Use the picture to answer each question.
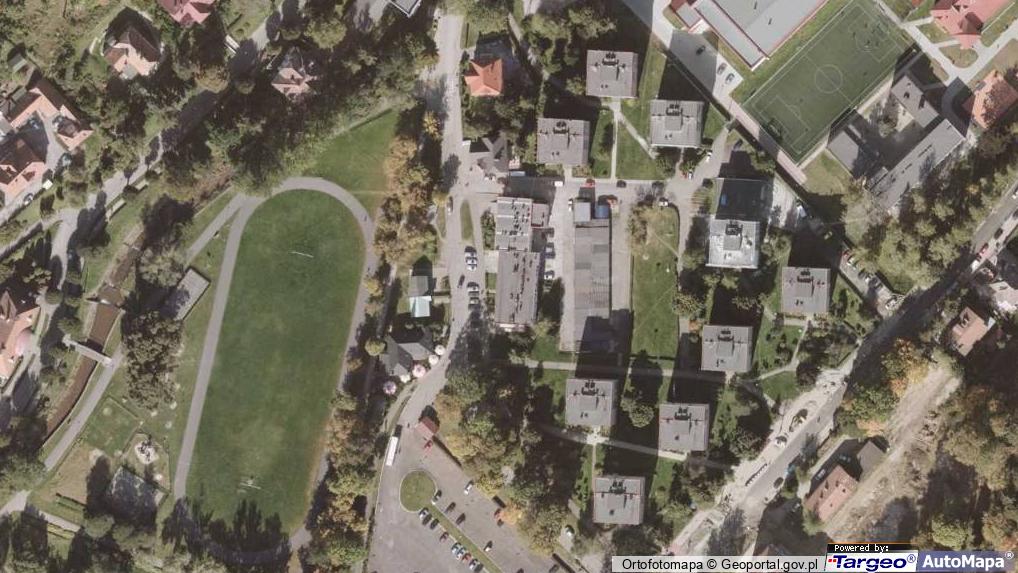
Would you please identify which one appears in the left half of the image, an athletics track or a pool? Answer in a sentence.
It is an athletics track that can be seen in the left half of the image.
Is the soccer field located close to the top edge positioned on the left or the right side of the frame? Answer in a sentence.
The soccer field located close to the top edge is on the right side of the image.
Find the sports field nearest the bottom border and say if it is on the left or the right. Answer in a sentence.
The sports field nearest the bottom border sits on the left side.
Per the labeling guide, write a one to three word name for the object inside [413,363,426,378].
umbrella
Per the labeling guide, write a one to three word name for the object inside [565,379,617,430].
building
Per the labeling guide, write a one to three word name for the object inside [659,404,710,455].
building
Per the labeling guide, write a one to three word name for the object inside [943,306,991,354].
house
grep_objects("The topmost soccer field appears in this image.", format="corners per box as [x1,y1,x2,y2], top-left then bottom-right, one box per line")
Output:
[742,0,908,164]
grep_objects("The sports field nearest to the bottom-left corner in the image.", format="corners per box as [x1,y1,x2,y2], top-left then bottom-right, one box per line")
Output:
[187,190,365,549]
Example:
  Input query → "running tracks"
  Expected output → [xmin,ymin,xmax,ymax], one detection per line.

[176,177,378,561]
